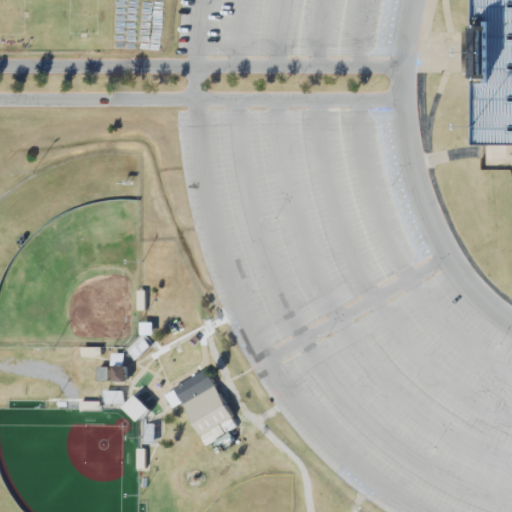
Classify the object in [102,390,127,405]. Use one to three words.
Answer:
shed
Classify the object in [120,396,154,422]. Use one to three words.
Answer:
building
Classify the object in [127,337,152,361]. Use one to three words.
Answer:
building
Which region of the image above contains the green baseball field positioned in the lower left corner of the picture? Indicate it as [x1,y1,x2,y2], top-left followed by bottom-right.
[0,409,140,512]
